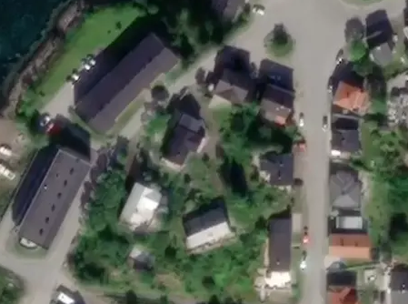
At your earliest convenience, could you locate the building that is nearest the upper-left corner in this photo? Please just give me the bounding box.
[71,26,179,137]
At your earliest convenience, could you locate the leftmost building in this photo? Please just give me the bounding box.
[11,143,93,250]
